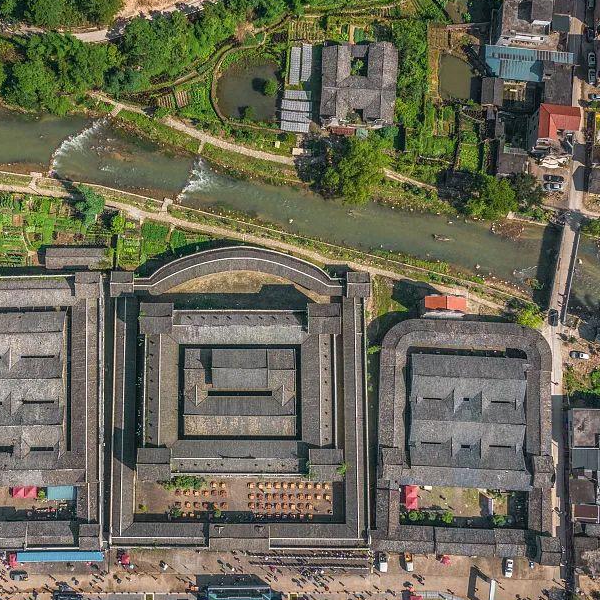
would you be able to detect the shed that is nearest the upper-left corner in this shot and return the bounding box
[45,247,106,267]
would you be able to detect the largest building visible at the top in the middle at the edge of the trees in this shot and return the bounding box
[320,42,397,137]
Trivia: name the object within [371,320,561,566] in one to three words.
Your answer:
building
